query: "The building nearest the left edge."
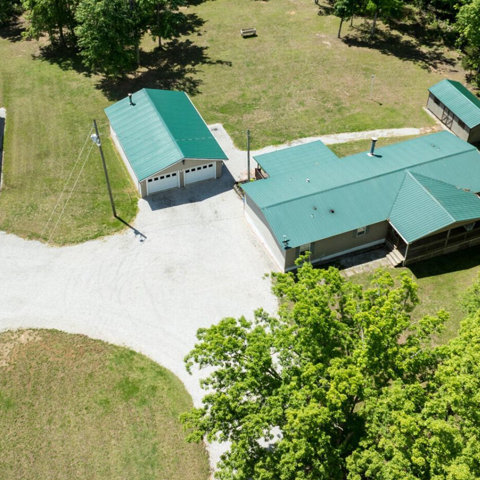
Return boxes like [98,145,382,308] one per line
[106,91,230,199]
